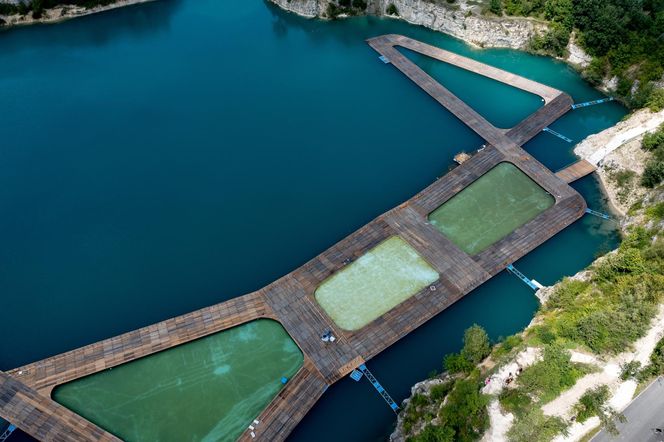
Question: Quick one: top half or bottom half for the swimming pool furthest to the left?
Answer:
bottom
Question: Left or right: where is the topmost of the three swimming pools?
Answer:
right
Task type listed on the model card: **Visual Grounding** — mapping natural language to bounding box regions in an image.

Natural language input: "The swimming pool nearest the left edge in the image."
[53,317,303,442]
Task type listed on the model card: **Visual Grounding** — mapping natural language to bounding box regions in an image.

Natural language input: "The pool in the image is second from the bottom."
[316,236,440,331]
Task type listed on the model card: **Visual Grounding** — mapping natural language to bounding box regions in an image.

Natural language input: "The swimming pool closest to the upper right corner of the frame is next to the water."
[428,159,556,255]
